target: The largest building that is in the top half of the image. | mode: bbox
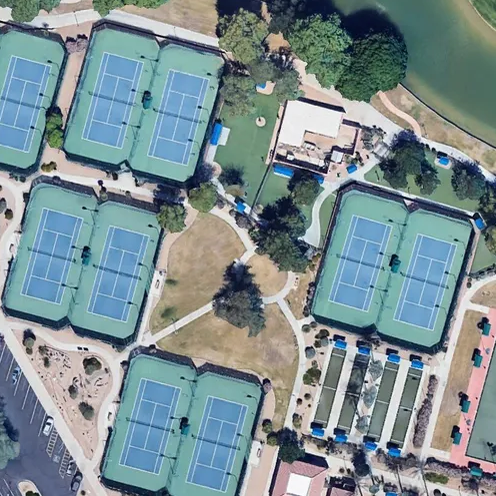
[271,100,358,179]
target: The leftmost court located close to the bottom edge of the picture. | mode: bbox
[102,352,198,496]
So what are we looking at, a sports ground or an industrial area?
sports ground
